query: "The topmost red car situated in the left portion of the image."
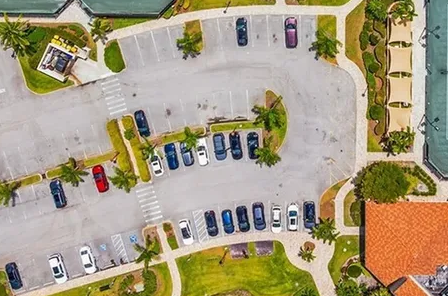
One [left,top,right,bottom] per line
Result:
[93,163,109,192]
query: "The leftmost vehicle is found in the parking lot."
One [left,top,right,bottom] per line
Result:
[5,260,24,291]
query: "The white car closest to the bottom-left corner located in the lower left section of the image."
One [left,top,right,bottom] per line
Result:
[48,253,68,283]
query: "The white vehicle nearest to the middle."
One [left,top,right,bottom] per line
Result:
[195,136,210,165]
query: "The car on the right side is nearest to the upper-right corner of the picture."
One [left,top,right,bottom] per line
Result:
[285,18,298,47]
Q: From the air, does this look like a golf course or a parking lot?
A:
parking lot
